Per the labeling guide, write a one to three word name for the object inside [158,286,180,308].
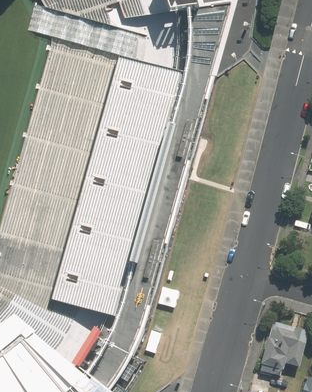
tent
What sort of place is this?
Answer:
sports ground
